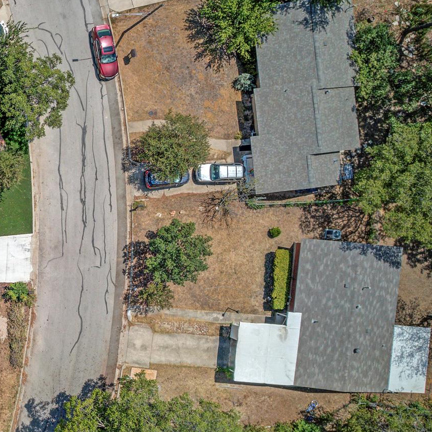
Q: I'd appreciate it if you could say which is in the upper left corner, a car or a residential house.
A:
car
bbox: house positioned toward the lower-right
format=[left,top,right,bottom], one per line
[222,238,431,393]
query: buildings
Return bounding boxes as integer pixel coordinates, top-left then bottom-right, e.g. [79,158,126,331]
[222,238,431,393]
[242,0,361,194]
